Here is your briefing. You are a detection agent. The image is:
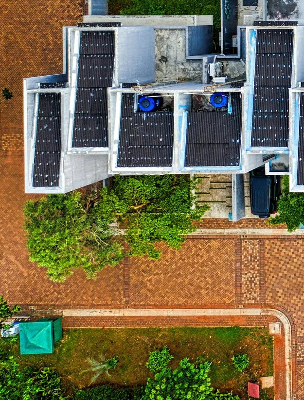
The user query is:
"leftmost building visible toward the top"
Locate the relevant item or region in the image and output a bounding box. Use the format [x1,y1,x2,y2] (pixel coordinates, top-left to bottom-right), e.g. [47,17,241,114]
[23,13,232,193]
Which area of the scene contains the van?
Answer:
right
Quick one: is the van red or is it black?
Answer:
black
